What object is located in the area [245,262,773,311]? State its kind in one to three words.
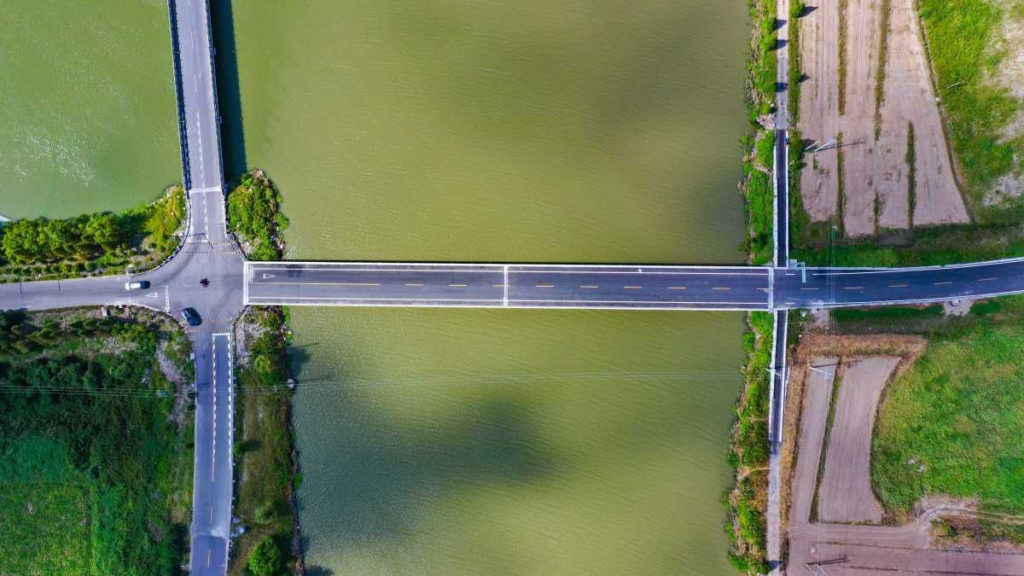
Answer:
bridge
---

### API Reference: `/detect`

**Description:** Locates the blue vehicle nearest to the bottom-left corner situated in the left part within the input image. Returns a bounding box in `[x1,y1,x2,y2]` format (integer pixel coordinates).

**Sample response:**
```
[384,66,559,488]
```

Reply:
[181,308,197,327]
